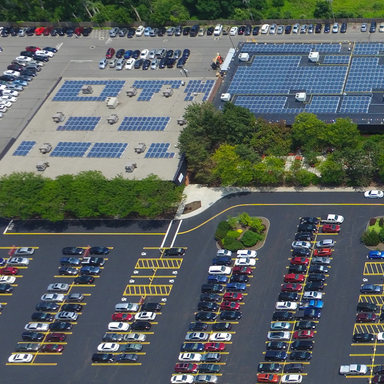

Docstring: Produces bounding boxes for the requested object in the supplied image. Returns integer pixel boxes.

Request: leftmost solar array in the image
[12,141,38,156]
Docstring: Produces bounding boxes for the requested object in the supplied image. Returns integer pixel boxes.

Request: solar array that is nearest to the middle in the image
[143,143,177,158]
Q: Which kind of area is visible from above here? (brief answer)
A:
parking lot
